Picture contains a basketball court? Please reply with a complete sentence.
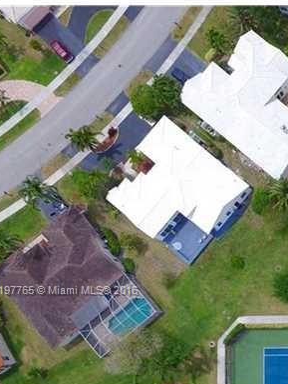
No, there appears to be no basketball court in this shot.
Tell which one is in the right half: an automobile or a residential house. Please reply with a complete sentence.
Visible in the right half is a residential house.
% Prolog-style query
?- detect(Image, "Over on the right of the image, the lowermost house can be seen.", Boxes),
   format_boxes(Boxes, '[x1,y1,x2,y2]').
[106,117,252,240]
